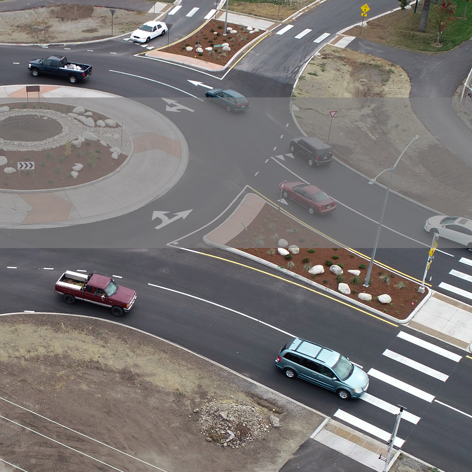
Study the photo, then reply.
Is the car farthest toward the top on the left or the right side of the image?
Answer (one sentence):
You can find the car farthest toward the top on the left side of the picture.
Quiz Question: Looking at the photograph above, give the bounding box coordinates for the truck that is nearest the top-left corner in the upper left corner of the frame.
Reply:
[27,54,95,83]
